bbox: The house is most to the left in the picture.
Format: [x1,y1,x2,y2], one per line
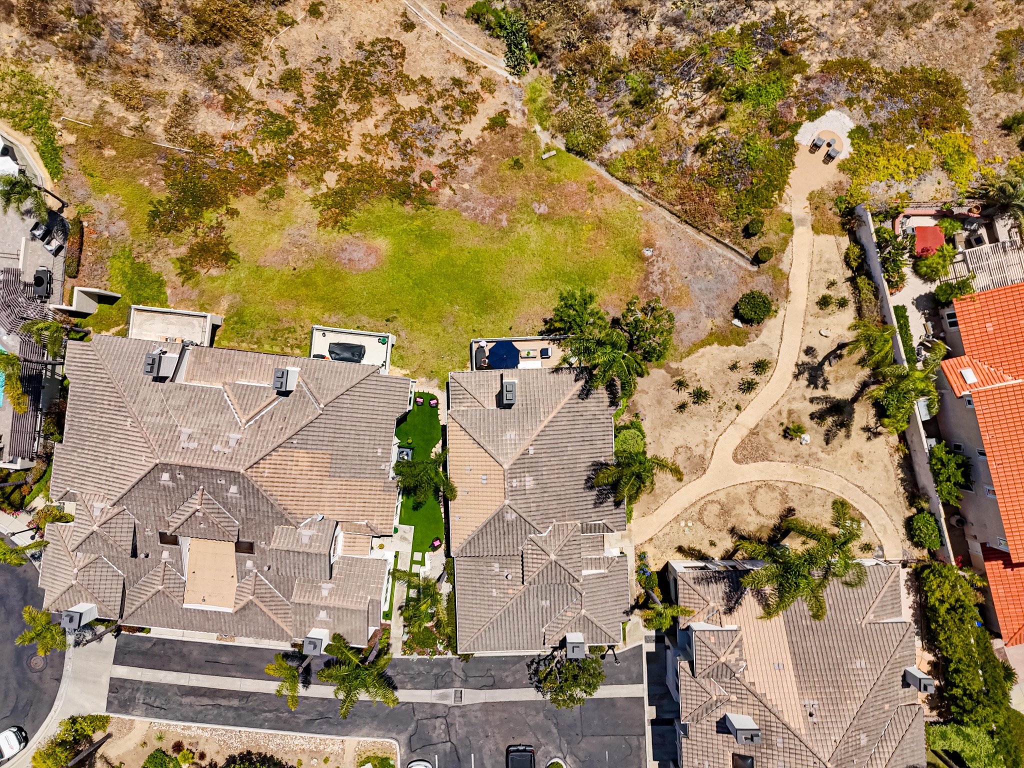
[38,333,418,656]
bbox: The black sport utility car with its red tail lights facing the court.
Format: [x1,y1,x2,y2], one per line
[507,748,533,768]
